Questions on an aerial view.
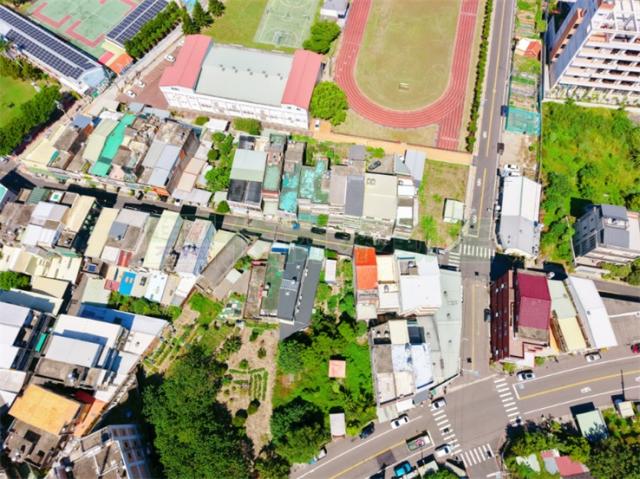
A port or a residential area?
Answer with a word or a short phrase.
residential area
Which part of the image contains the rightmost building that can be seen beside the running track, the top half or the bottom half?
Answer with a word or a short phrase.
top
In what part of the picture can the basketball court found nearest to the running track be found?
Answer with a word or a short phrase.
top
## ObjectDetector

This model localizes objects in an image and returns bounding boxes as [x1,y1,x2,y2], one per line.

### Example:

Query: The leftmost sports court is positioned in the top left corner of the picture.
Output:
[24,0,130,64]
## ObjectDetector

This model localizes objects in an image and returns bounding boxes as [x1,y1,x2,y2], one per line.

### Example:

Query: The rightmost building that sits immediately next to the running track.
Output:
[542,0,640,104]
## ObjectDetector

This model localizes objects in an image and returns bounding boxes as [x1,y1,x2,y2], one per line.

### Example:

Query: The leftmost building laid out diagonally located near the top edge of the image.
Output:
[0,0,104,91]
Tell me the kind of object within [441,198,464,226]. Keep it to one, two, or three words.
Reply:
shed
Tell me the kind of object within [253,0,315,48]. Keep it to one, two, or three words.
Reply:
basketball court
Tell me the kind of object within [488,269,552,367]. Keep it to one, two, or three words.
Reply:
house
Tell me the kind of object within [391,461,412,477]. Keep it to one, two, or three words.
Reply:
car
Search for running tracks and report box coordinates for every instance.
[337,0,478,148]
